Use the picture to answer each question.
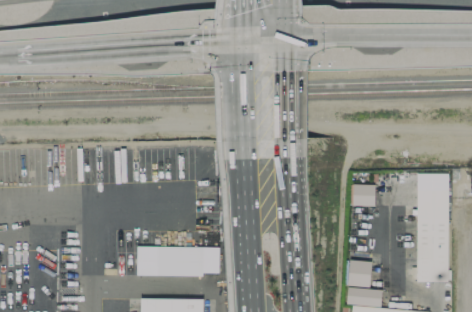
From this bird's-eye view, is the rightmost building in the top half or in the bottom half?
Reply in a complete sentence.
It is in the bottom half that the rightmost building appears.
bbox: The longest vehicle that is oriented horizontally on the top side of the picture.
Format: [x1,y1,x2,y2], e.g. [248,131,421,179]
[274,31,318,48]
